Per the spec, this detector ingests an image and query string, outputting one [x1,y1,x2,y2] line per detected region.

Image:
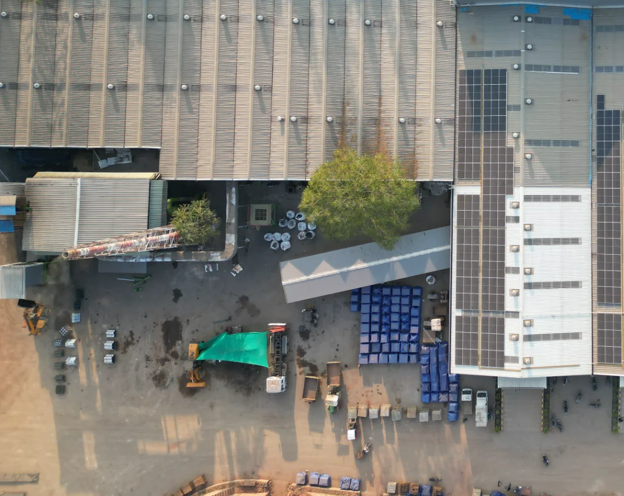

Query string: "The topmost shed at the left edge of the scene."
[0,0,166,148]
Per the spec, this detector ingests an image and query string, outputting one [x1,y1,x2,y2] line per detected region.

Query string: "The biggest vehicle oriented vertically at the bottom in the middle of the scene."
[262,326,285,396]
